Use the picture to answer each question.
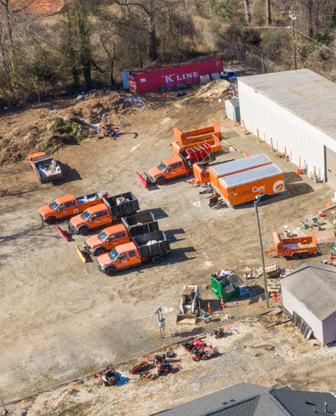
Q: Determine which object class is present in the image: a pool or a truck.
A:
truck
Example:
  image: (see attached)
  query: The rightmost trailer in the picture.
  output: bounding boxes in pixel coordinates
[265,233,317,259]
